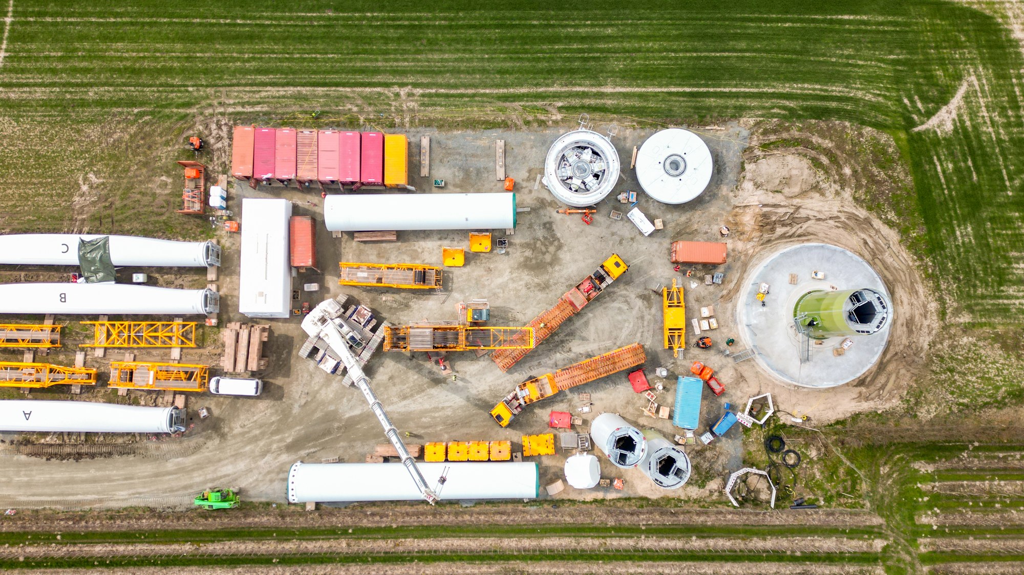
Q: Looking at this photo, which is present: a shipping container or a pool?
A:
shipping container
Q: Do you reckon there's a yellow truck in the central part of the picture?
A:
Yes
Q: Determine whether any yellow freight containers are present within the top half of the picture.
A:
Yes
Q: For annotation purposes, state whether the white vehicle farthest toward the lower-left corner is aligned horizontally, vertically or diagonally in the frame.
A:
horizontally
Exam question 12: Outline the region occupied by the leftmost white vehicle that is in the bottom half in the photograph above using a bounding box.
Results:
[211,376,265,398]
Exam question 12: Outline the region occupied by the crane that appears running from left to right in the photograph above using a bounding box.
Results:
[383,299,535,370]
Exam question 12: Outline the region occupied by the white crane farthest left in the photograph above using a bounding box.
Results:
[301,296,444,511]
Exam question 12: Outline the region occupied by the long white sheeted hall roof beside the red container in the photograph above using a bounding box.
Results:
[239,198,292,318]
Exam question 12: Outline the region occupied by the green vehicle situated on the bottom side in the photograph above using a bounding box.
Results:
[193,487,241,510]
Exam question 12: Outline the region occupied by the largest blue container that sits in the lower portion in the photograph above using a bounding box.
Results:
[672,375,703,430]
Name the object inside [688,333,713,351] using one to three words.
work vehicle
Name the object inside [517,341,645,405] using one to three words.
trailer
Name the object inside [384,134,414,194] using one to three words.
shipping container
